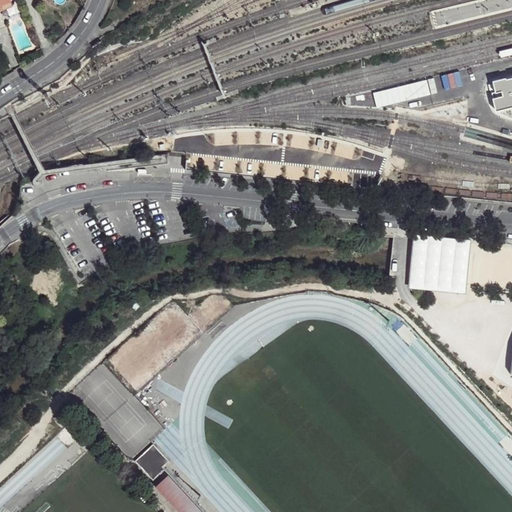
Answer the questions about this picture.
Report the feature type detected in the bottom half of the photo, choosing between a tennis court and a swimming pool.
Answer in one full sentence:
You can see a tennis court in the bottom half of the photo.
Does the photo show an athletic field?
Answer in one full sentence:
Yes, the frame does contain an athletic field.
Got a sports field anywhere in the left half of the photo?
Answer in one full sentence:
Yes, a sports field is visible in the left half of the photo.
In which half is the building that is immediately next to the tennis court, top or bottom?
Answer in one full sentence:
The bottom half of the photo is where the building that is immediately next to the tennis court is.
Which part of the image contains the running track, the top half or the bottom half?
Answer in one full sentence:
The bottom half of the photo is where the running track is.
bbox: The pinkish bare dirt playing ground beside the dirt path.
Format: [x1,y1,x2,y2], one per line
[108,305,202,390]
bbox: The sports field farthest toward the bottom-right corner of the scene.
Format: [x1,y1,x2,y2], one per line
[206,320,512,512]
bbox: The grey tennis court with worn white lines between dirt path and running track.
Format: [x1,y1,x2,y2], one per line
[74,364,164,460]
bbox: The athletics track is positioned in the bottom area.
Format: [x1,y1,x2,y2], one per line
[154,293,512,512]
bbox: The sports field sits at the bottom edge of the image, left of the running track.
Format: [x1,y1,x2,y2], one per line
[17,451,150,512]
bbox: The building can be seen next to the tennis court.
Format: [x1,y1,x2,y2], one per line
[136,446,168,481]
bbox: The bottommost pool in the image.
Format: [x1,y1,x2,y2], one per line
[10,14,36,54]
